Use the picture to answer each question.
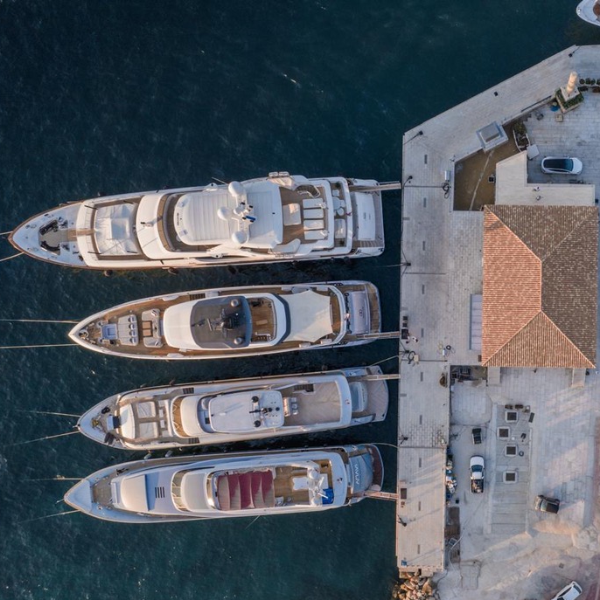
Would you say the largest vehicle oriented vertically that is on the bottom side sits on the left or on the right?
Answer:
right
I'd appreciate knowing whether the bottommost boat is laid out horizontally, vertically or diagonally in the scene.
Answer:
horizontally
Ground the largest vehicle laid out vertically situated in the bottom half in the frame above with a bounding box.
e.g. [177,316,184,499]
[467,456,486,496]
